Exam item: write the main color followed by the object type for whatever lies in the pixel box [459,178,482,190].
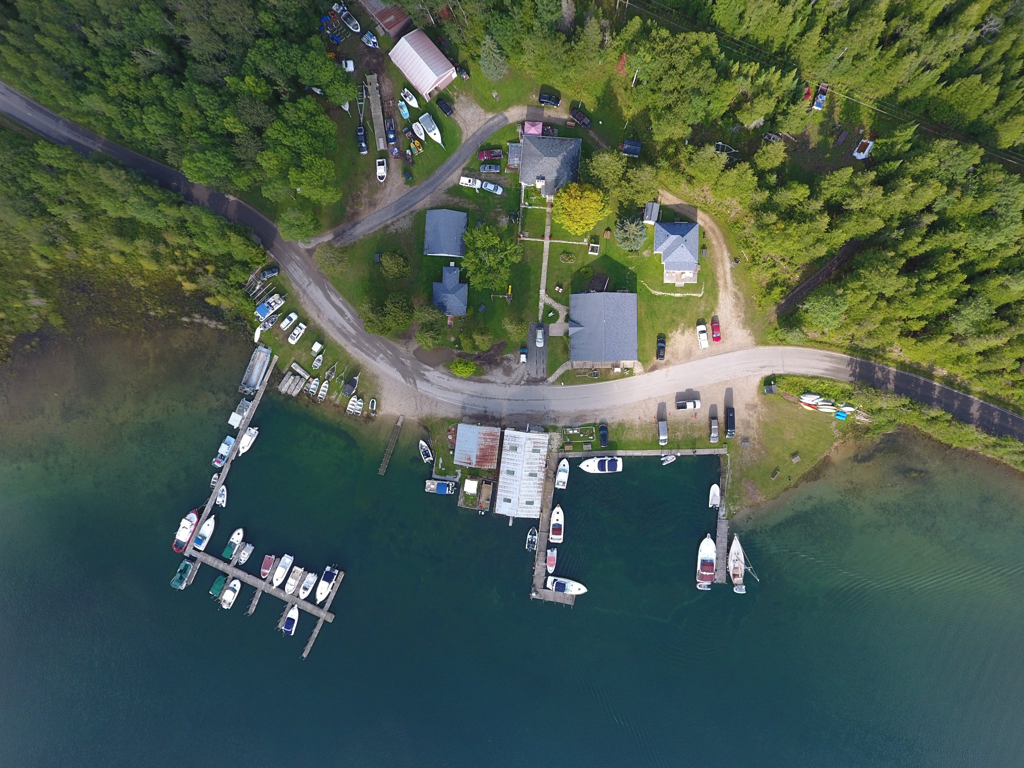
white vehicle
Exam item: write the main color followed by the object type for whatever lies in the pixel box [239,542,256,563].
white boat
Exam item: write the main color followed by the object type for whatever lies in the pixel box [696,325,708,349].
white vehicle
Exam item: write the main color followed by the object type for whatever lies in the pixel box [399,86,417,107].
white boat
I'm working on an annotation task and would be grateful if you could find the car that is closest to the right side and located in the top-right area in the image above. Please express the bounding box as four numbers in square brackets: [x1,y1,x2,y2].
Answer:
[854,138,872,161]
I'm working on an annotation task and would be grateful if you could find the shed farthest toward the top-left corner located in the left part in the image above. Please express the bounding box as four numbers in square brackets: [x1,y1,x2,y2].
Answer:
[364,0,412,36]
